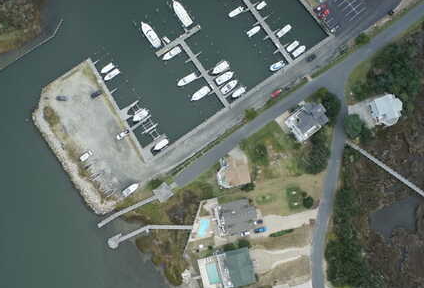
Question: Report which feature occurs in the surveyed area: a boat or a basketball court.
boat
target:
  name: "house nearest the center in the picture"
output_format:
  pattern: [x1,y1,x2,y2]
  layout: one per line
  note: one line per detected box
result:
[216,155,250,189]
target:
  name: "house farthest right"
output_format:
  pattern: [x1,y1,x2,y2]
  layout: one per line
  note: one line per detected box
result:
[365,95,403,129]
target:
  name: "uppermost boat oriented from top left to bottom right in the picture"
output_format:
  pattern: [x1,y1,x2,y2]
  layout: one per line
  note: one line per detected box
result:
[172,0,193,28]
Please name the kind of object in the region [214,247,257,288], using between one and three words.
house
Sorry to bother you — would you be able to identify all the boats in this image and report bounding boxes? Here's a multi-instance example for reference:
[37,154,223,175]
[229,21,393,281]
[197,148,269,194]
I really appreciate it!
[228,6,246,17]
[141,21,161,49]
[152,137,170,150]
[256,0,267,9]
[275,25,291,39]
[291,46,306,58]
[132,107,150,122]
[172,0,193,28]
[287,39,300,52]
[246,26,261,38]
[101,62,115,73]
[214,72,235,86]
[191,85,212,100]
[104,68,121,80]
[209,61,231,76]
[220,80,238,95]
[231,85,247,98]
[270,60,286,70]
[177,72,198,85]
[162,46,182,59]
